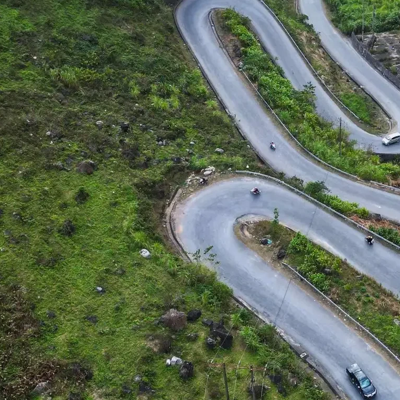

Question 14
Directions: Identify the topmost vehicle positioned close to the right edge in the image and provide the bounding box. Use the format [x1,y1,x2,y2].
[381,131,400,146]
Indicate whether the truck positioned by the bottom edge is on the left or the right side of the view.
right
